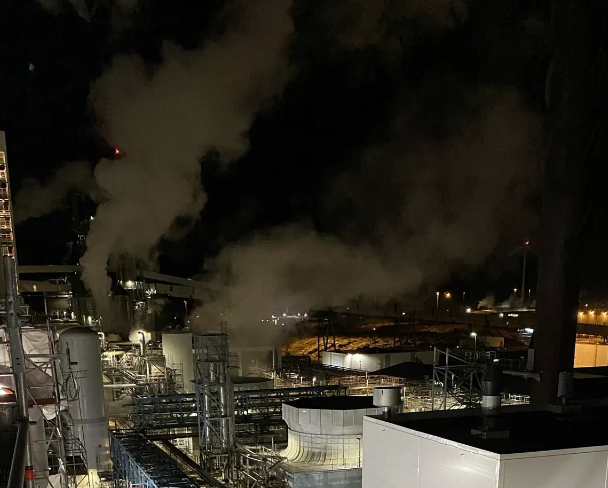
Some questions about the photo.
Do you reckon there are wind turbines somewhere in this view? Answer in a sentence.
Yes, a wind turbine can be made out from above.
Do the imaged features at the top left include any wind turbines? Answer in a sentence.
No, no wind turbine can be made out at the top left.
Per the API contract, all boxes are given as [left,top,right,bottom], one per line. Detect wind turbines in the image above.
[504,216,544,308]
